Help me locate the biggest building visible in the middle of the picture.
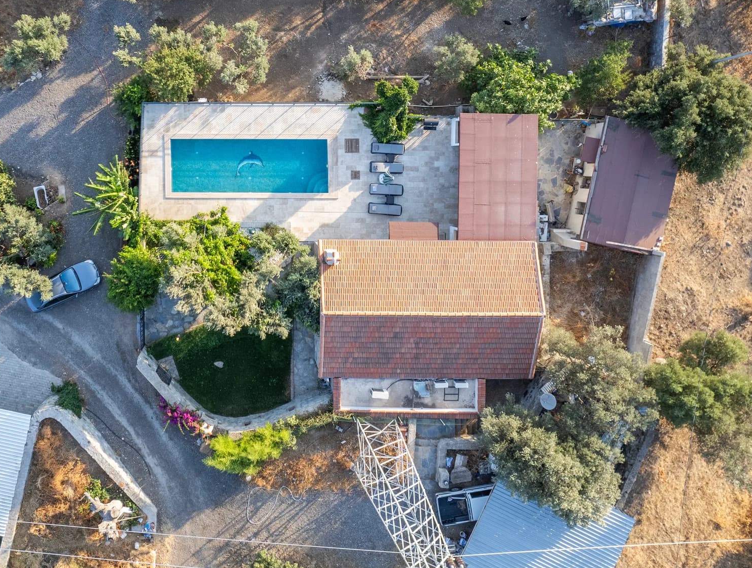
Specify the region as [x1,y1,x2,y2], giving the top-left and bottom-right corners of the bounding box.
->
[317,238,546,424]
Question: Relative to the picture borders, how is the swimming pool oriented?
from side to side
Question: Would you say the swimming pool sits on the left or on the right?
left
